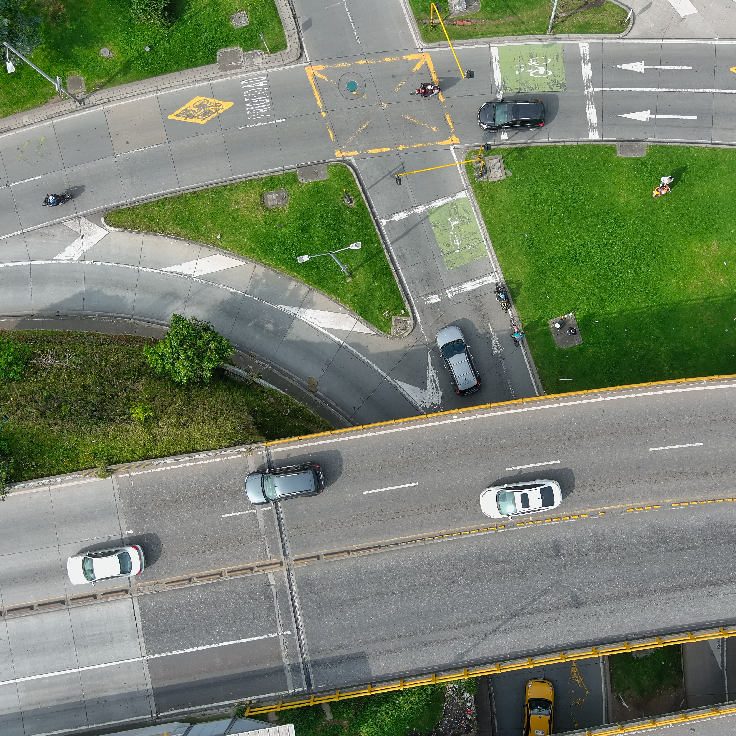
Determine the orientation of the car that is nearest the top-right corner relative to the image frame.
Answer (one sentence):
The car that is nearest the top-right corner is laid out from side to side.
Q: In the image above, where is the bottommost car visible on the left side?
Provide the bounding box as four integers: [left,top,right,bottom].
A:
[67,542,149,587]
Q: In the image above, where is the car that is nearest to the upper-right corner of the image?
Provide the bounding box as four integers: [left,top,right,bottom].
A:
[477,96,547,132]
